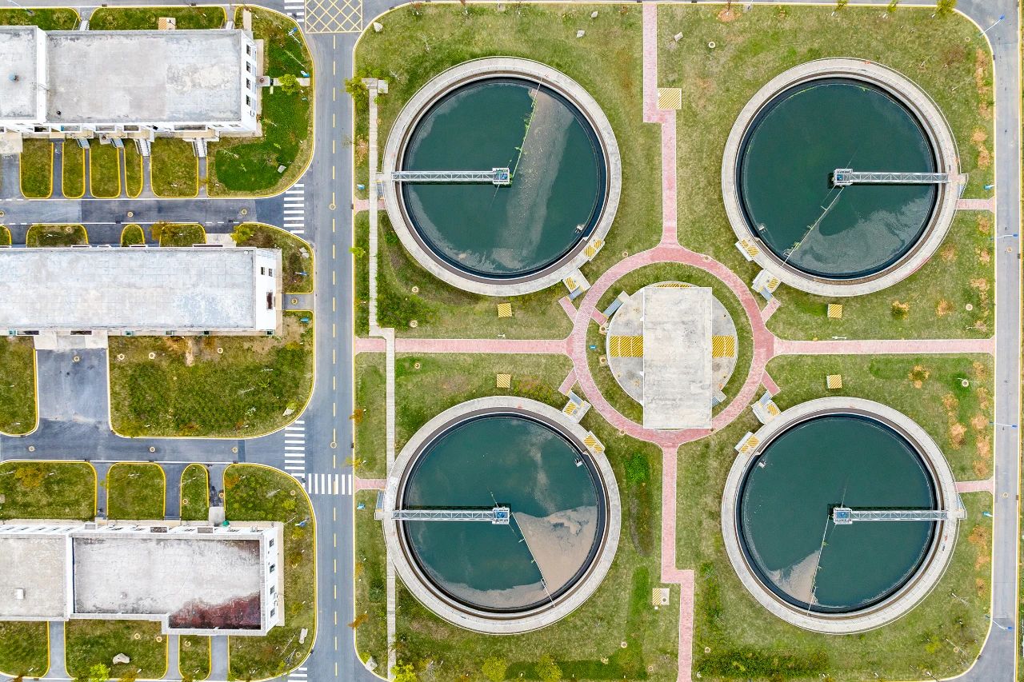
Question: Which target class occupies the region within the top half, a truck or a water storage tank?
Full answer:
Looking within the top half, you will find a water storage tank.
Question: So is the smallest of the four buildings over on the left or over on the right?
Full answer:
It is on the right.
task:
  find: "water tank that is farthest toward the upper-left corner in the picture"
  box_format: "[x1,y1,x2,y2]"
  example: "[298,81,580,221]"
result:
[374,56,621,302]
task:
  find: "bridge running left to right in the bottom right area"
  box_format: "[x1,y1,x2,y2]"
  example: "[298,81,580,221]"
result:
[831,508,953,527]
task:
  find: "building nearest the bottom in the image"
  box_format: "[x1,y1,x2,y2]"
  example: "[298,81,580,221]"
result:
[0,506,284,636]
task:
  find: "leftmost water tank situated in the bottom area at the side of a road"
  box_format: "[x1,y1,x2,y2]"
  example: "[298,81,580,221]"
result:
[374,391,620,636]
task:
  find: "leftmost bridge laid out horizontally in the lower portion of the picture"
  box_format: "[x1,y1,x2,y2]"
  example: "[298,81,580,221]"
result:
[391,507,510,526]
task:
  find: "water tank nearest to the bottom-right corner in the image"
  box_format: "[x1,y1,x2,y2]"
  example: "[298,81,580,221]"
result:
[720,391,971,636]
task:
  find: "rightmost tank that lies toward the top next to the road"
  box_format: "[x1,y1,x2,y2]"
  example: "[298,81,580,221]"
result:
[721,57,970,302]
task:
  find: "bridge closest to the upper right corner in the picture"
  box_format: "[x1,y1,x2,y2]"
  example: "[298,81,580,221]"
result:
[831,166,954,185]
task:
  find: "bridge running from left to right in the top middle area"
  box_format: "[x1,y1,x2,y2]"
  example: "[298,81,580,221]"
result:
[391,166,510,185]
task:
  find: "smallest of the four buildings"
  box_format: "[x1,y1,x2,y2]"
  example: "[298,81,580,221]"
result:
[603,281,738,428]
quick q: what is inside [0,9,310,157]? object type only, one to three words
building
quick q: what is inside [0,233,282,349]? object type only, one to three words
building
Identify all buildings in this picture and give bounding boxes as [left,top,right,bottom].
[0,233,282,349]
[0,506,284,636]
[0,9,310,157]
[603,281,738,428]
